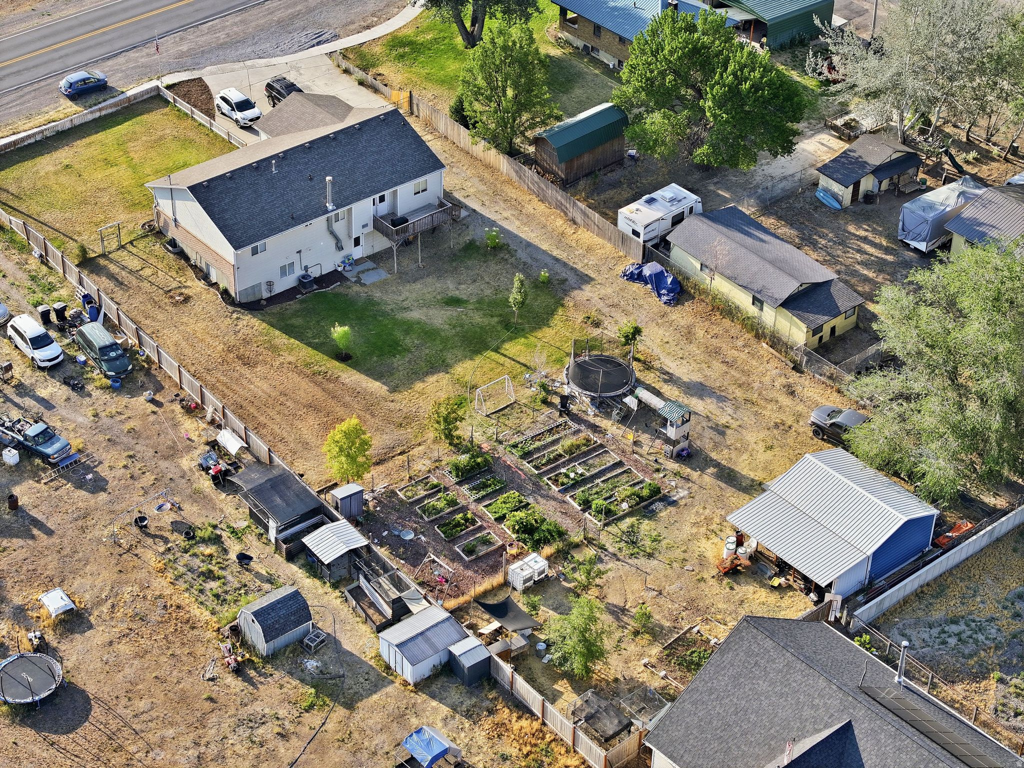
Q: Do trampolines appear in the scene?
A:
Yes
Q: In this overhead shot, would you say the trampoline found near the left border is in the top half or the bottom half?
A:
bottom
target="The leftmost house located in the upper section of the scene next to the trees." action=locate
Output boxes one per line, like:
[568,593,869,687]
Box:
[151,91,466,304]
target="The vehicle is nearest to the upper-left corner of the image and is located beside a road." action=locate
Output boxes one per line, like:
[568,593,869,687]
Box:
[56,69,111,101]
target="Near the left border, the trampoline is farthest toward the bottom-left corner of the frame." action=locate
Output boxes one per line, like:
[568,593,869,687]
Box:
[0,637,67,715]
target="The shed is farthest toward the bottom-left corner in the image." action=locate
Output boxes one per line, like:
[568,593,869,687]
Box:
[238,586,315,656]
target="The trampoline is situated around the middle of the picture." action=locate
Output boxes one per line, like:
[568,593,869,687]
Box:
[565,337,638,407]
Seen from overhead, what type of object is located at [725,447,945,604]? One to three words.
building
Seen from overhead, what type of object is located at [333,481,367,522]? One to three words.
shed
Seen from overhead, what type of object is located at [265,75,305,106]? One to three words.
car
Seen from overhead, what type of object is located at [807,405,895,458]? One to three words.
truck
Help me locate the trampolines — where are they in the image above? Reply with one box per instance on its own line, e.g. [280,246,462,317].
[0,637,67,715]
[565,337,638,407]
